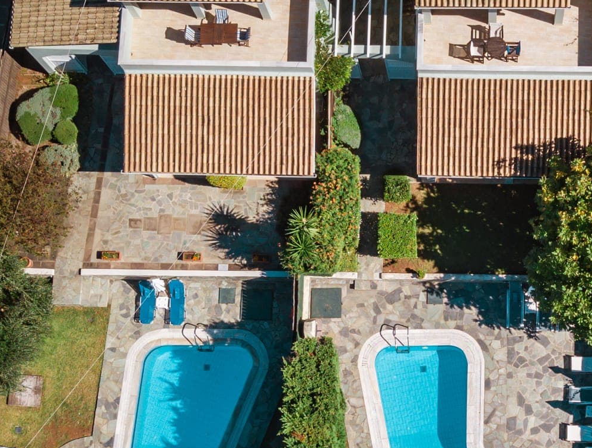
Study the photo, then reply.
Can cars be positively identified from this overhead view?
No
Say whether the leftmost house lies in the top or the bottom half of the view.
top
